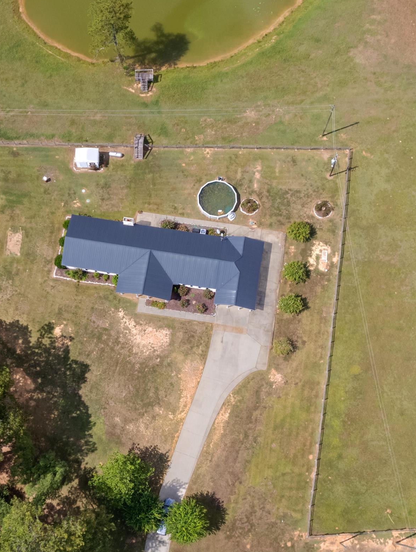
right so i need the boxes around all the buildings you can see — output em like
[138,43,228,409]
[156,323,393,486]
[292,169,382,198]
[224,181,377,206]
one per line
[75,147,99,170]
[61,214,264,312]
